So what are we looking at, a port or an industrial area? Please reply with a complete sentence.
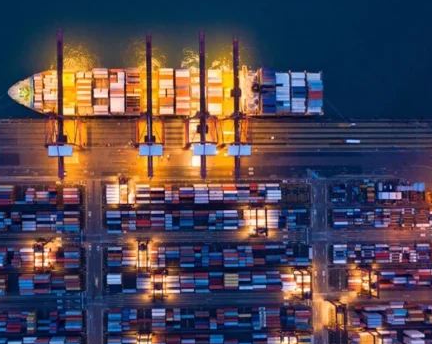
This looks like a port.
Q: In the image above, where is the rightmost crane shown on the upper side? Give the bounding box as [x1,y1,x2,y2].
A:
[212,36,253,181]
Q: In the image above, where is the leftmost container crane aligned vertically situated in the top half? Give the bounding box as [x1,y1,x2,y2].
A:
[44,31,84,181]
